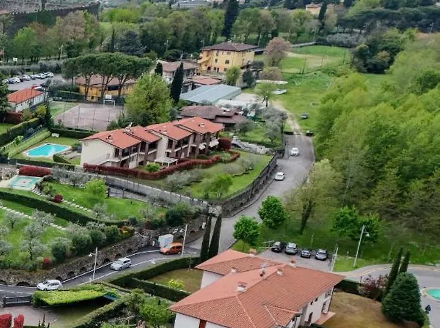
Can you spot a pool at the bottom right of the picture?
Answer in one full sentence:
No, the scene shows no pool at the bottom right of the picture.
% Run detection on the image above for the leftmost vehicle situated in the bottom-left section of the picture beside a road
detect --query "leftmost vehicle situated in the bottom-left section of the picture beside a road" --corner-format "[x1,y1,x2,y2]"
[35,278,64,292]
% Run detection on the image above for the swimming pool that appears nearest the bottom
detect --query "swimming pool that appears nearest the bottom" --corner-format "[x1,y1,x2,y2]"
[0,175,41,192]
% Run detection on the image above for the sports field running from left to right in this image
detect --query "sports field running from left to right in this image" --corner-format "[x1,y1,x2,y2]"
[280,51,336,70]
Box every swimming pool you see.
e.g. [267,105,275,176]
[0,175,41,192]
[21,142,71,160]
